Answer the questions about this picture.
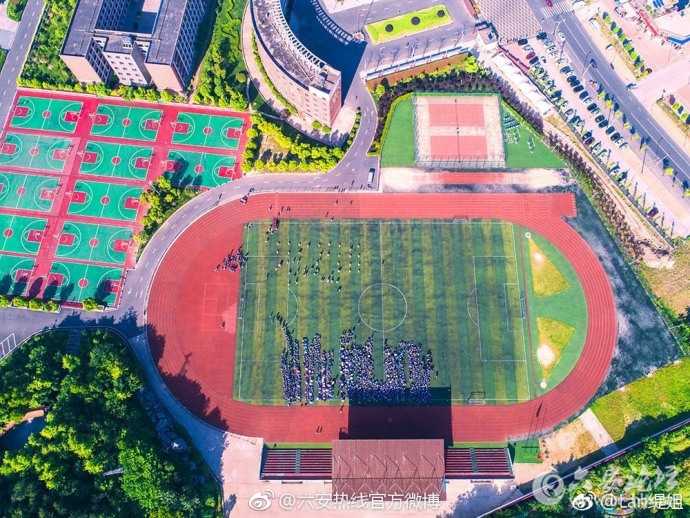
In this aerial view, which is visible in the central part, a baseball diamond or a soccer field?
soccer field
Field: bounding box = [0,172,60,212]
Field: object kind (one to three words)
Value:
basketball court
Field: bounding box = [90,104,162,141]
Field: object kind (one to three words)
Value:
basketball court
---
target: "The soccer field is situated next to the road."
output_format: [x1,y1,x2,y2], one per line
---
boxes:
[233,218,535,406]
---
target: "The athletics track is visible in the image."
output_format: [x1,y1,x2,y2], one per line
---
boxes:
[147,193,617,442]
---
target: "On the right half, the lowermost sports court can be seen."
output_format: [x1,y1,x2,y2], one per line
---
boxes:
[431,136,488,160]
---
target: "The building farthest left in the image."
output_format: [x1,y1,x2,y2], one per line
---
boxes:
[59,0,206,90]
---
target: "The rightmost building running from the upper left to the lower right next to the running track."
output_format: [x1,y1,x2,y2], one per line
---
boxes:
[251,0,341,127]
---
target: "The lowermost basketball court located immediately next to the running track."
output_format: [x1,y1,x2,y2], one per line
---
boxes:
[42,263,123,309]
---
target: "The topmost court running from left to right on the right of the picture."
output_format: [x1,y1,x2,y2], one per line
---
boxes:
[429,104,486,126]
